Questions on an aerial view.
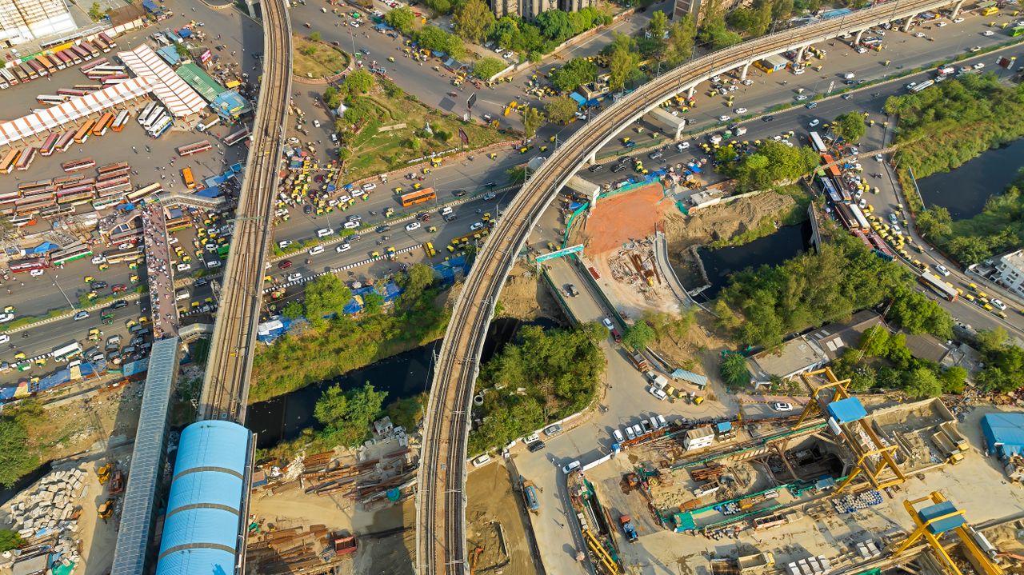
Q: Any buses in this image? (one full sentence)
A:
Yes, the photo shows a bus.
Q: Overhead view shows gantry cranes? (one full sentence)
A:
Yes, the picture does show a gantry crane.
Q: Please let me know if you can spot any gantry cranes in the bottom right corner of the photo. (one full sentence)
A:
Yes, a gantry crane can be seen in the bottom right corner of the photo.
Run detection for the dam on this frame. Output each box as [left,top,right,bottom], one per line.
[690,247,716,299]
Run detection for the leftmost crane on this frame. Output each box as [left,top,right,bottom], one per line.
[789,365,912,495]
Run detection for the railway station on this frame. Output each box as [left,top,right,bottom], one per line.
[152,419,267,575]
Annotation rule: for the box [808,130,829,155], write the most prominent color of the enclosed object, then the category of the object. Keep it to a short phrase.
white bus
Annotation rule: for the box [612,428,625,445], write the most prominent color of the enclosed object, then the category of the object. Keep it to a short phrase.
white vehicle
